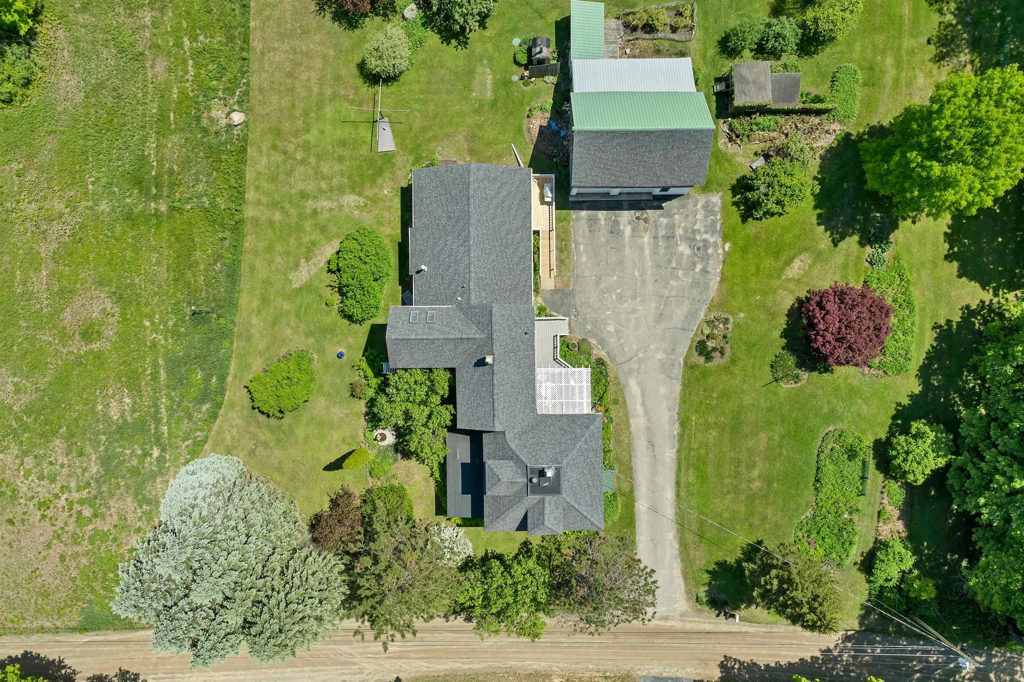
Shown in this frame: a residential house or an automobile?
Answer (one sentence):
There is a residential house in the scene.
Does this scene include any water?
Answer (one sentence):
No, there's no water in this view.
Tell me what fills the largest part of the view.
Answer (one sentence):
What you mostly see from above here is grass.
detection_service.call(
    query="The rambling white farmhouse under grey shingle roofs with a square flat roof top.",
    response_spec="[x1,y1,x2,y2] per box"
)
[385,163,615,536]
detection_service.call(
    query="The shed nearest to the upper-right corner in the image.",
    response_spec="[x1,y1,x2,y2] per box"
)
[726,59,801,110]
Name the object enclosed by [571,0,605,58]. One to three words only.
shed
